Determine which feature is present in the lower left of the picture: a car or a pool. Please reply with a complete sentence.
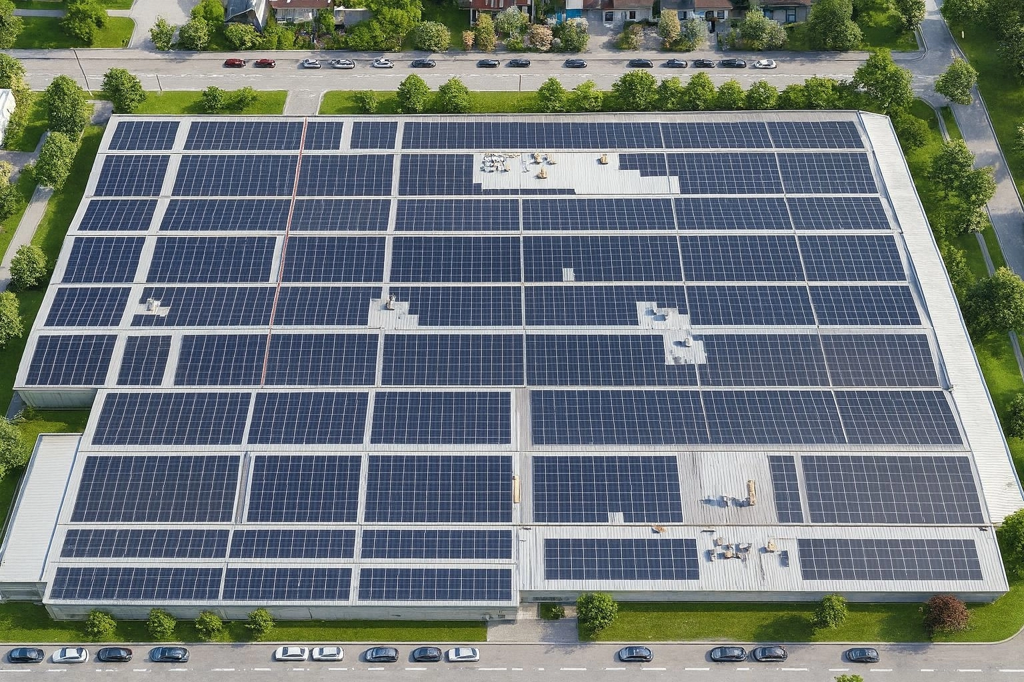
It is a car that can be seen in the lower left of the picture.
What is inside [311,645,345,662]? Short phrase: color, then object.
white car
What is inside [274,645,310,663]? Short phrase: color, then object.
white car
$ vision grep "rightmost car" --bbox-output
[845,647,882,665]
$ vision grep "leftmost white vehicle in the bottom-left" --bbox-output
[51,646,90,665]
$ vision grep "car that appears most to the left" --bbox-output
[6,646,47,665]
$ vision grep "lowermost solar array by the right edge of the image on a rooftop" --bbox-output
[798,538,984,579]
